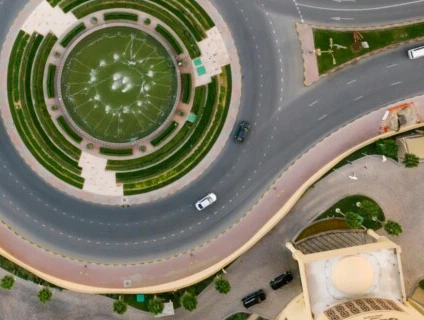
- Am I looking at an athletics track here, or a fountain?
fountain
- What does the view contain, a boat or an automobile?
automobile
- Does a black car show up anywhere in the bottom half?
Yes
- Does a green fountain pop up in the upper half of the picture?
Yes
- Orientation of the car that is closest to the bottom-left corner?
at an angle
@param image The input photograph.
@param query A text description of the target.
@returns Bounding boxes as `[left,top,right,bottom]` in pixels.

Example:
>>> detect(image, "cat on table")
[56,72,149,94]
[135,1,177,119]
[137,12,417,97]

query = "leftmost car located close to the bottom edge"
[240,288,267,309]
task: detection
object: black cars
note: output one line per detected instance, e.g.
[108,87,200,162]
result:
[240,288,267,309]
[234,120,251,144]
[268,270,294,291]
